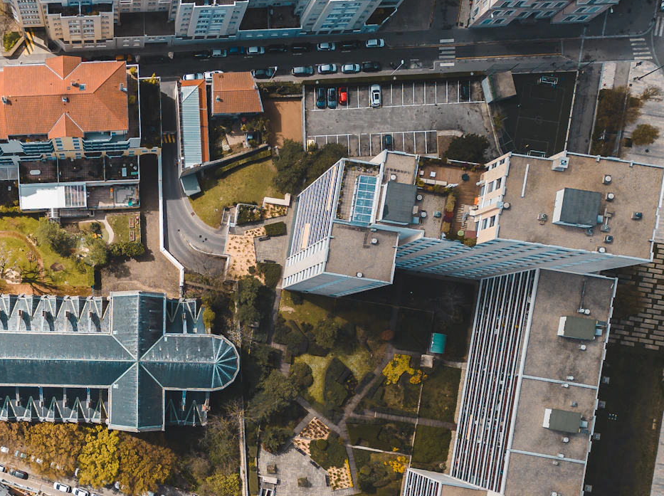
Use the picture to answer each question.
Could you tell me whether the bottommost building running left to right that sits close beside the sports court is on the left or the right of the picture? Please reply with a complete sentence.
It is on the right.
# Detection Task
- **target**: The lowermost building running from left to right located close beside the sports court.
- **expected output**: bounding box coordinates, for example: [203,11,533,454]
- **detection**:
[278,150,664,296]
